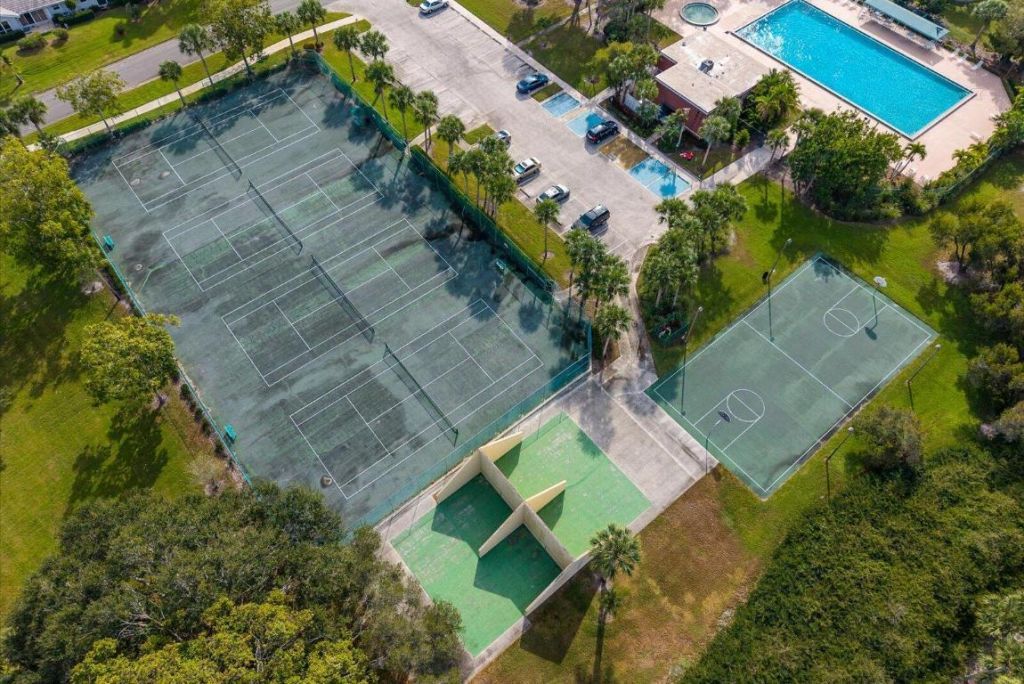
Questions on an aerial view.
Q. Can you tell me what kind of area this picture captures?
sports ground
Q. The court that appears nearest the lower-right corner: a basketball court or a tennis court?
basketball court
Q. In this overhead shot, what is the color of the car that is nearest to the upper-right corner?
black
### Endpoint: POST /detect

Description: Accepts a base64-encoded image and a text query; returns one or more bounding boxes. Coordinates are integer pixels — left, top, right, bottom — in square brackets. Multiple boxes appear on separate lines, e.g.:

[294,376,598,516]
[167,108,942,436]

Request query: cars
[586,122,621,146]
[420,0,451,17]
[572,201,613,231]
[481,130,515,154]
[508,158,544,184]
[533,183,570,209]
[518,74,550,94]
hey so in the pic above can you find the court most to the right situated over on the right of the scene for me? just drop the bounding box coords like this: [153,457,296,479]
[642,250,943,503]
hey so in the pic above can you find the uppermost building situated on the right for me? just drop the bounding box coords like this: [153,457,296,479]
[862,0,951,54]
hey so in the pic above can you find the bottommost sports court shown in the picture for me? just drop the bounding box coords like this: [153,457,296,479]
[389,412,651,655]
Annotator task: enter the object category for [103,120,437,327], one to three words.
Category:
tennis court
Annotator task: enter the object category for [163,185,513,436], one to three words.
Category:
tennis court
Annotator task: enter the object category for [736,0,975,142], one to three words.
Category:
swimming pool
